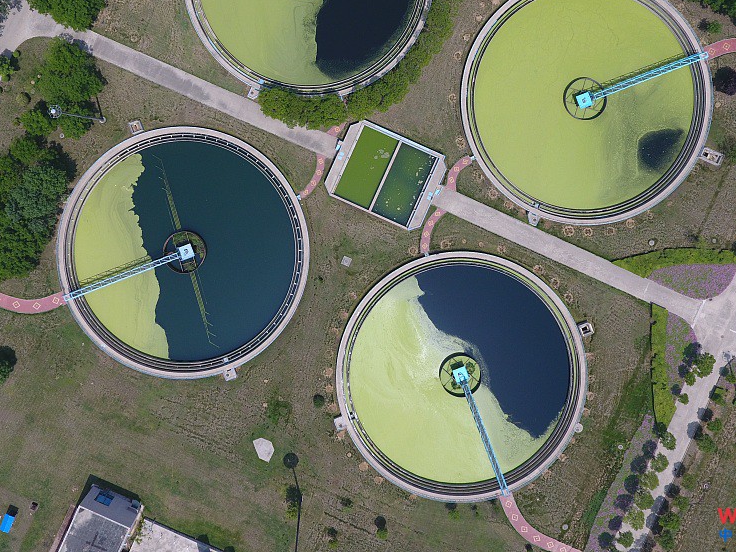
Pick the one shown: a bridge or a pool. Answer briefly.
bridge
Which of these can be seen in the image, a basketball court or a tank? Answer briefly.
tank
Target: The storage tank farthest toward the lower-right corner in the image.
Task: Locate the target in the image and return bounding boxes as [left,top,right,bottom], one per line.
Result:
[335,250,588,503]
